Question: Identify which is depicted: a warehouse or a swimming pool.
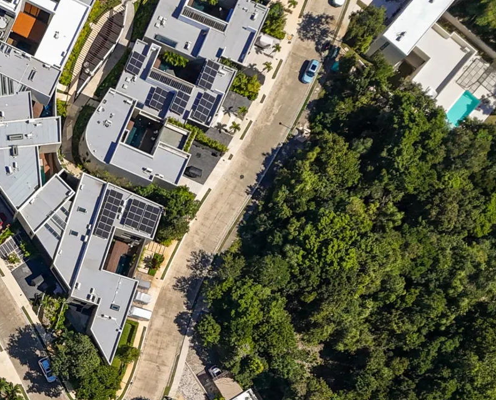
swimming pool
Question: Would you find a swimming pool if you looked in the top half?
Yes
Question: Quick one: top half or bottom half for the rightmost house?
top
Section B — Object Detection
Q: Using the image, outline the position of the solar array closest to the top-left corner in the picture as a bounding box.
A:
[125,52,145,75]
